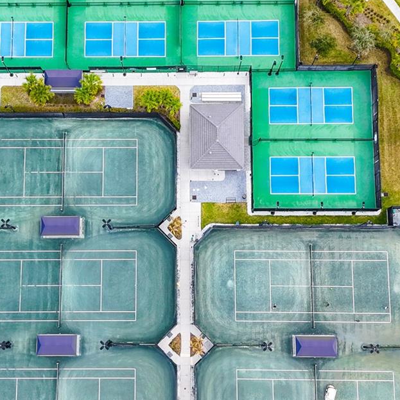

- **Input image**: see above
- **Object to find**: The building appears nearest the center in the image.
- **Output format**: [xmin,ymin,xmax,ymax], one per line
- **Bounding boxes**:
[189,102,246,170]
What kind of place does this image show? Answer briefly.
sports ground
